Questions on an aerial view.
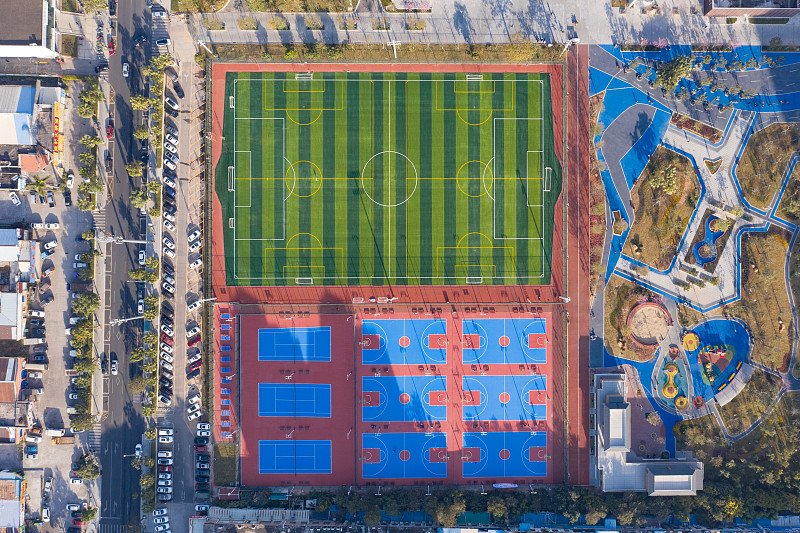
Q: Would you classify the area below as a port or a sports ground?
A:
sports ground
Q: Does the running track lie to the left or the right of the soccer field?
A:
on the right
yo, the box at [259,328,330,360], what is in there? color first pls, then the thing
blue tennis court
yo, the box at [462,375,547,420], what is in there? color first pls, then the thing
blue basketball court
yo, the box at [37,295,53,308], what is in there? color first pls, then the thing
gray vehicle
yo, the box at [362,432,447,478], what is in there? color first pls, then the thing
blue basketball court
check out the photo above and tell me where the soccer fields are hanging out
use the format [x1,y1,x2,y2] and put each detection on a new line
[216,72,562,285]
